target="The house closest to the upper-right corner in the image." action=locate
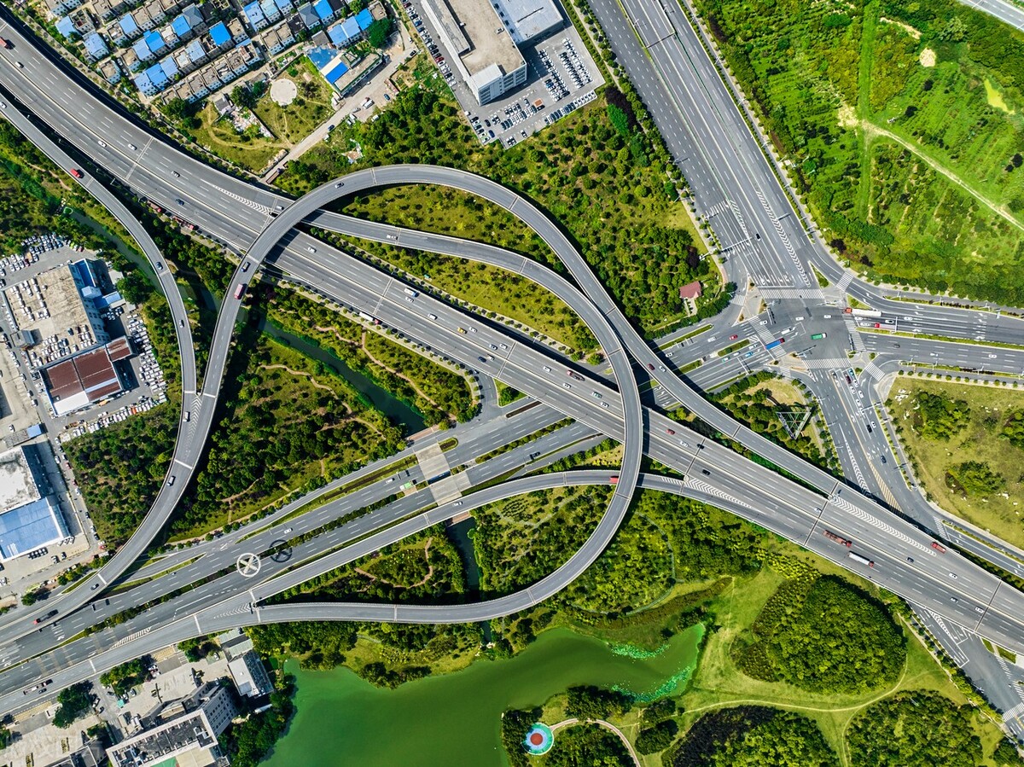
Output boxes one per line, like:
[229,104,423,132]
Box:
[678,281,702,299]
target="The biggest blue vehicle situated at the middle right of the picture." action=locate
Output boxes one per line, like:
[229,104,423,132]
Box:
[765,337,787,349]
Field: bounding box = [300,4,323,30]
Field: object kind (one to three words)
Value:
house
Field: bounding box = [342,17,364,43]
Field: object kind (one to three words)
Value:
house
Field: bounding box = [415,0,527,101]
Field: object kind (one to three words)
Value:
building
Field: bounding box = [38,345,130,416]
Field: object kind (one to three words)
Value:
building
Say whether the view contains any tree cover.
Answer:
Yes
